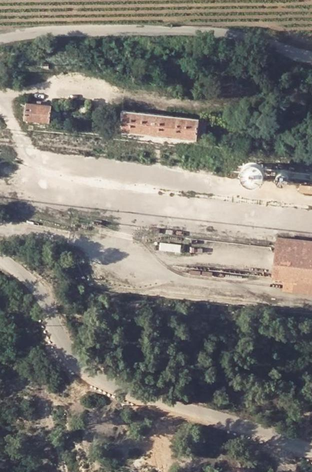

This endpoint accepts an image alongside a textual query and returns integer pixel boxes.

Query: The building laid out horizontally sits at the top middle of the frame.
[120,110,198,142]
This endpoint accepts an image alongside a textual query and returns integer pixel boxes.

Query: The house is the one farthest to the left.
[24,102,51,124]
